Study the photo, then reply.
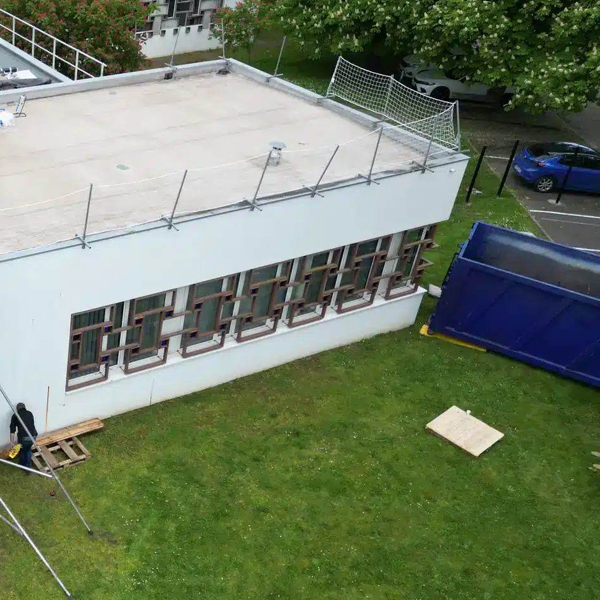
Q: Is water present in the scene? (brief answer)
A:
No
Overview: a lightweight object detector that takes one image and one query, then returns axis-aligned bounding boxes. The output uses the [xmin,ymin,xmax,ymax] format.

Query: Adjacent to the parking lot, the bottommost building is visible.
[0,61,470,448]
